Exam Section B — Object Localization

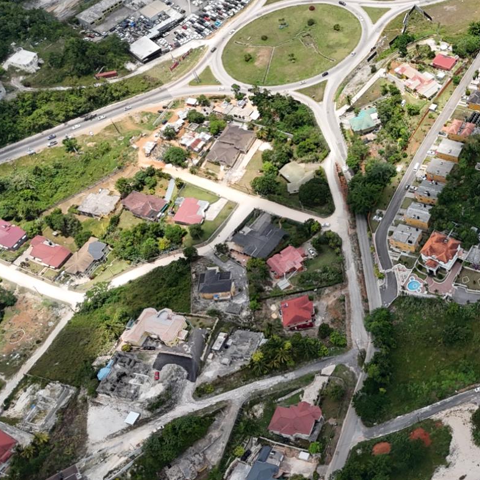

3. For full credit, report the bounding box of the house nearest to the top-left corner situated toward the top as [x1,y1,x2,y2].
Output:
[4,51,46,74]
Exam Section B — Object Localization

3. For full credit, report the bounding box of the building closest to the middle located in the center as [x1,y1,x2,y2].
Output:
[231,213,287,258]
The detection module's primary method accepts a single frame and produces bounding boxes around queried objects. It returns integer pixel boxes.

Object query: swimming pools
[406,276,422,292]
